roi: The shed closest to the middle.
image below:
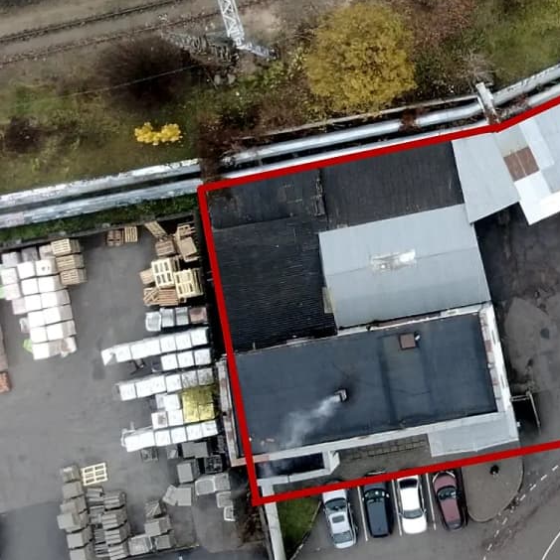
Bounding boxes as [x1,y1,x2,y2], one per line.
[207,165,339,352]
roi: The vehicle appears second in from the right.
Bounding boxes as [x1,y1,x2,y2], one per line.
[394,468,428,538]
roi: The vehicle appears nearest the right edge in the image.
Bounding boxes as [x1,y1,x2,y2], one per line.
[430,469,467,536]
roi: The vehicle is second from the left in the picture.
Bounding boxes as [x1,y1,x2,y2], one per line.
[358,473,393,542]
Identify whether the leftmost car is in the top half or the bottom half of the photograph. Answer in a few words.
bottom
